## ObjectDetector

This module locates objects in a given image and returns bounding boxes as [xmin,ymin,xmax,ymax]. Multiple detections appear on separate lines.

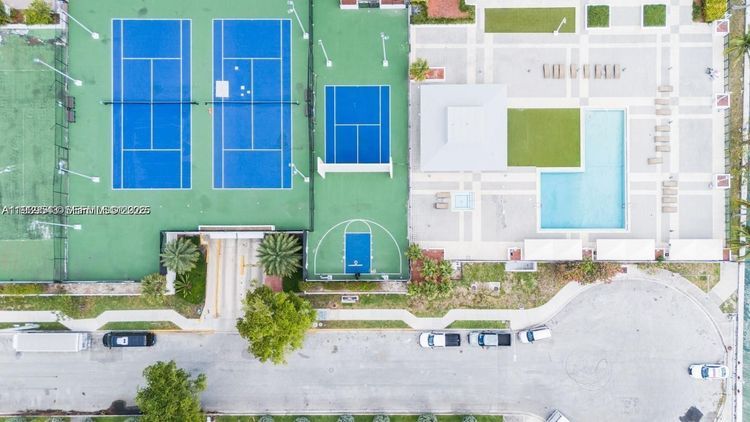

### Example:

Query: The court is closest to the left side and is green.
[0,29,64,281]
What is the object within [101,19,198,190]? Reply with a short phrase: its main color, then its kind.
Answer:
blue tennis court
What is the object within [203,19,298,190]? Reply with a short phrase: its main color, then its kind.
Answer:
blue tennis court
